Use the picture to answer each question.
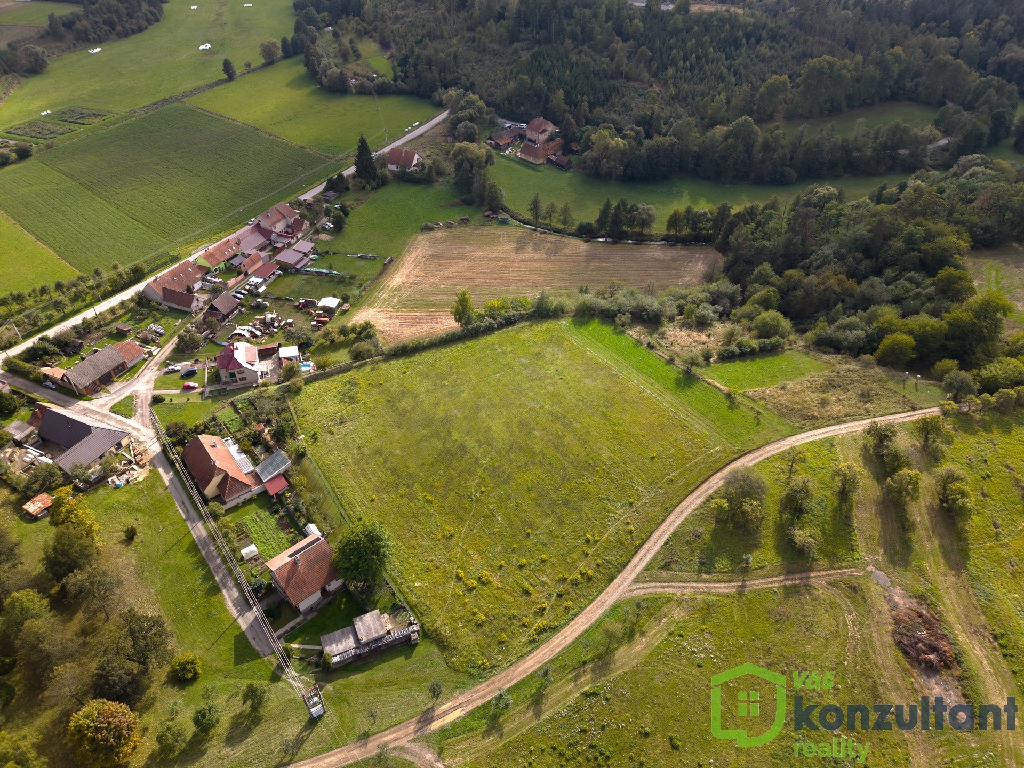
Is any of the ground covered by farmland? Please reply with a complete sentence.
Yes, the picture does contain farmland.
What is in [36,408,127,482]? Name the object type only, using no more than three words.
house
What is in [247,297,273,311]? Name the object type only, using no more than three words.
work vehicle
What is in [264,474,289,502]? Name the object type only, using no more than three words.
shed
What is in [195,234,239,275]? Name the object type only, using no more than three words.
building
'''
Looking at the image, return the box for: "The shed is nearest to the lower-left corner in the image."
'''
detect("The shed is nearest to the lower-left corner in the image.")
[22,492,54,520]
